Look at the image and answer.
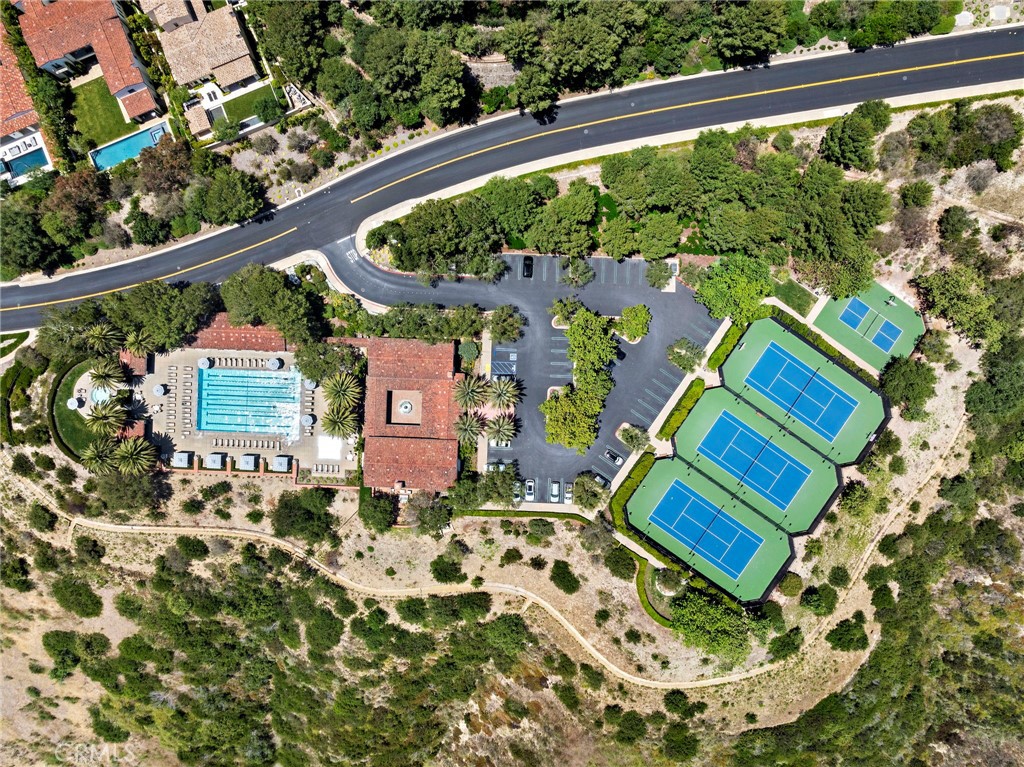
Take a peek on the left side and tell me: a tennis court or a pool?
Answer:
pool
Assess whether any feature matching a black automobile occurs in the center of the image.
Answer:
Yes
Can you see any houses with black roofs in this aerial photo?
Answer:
No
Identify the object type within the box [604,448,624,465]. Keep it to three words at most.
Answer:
car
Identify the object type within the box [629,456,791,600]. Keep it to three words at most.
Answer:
tennis court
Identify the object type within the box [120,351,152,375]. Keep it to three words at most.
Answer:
building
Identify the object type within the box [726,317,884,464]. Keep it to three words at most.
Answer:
tennis court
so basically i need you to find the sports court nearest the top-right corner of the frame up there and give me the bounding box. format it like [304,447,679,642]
[814,270,925,377]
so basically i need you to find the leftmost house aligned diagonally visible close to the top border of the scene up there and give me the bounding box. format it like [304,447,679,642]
[14,0,163,122]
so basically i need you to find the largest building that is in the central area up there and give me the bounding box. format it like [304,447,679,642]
[360,337,465,488]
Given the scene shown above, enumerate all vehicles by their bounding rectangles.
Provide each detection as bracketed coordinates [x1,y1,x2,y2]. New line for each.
[606,360,616,370]
[484,463,505,472]
[490,373,511,382]
[550,480,560,502]
[564,482,574,504]
[524,256,532,278]
[604,448,624,465]
[610,344,629,362]
[490,439,511,448]
[596,473,614,490]
[513,481,522,502]
[525,479,535,500]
